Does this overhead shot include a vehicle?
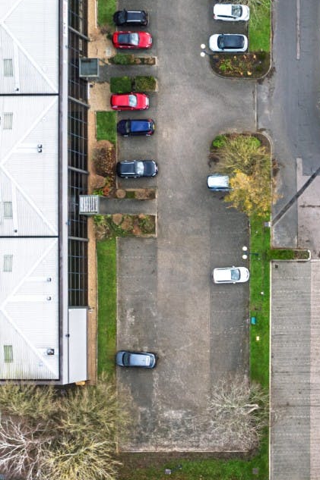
Yes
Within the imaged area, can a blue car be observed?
Yes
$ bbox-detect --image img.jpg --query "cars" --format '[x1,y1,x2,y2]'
[210,32,249,51]
[212,4,250,21]
[118,350,159,368]
[209,173,237,190]
[117,159,159,178]
[213,267,250,283]
[112,30,153,49]
[113,8,149,27]
[119,118,157,136]
[111,91,151,110]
